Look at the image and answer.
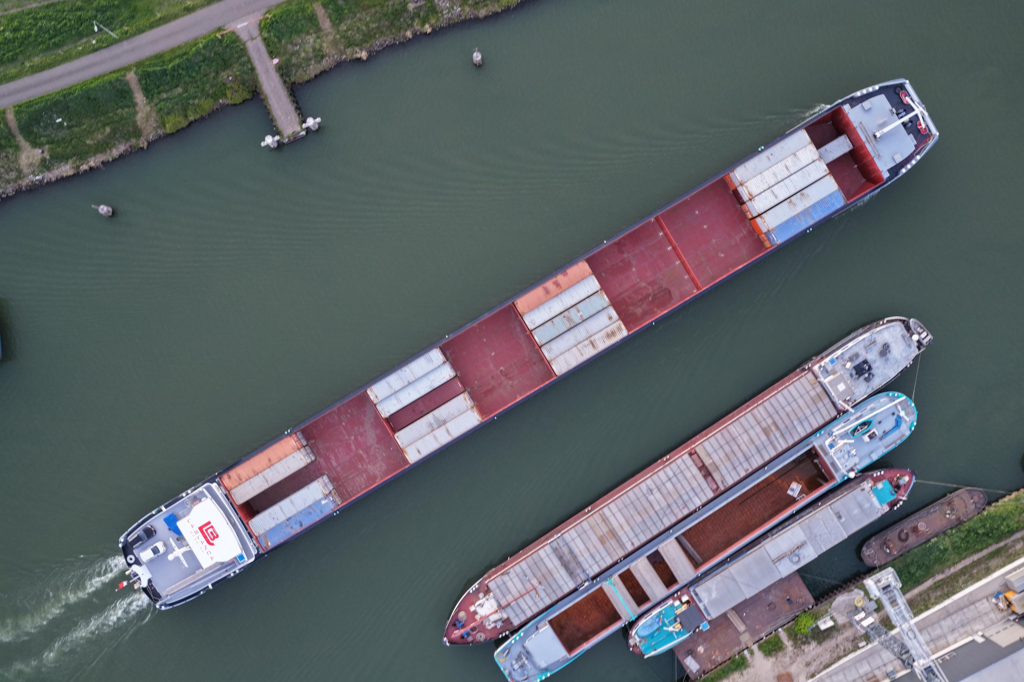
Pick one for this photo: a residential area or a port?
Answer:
port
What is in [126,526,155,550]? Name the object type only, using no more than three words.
boat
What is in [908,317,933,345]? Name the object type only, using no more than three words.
boat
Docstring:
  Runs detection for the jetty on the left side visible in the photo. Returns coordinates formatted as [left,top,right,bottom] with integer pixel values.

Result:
[259,74,310,146]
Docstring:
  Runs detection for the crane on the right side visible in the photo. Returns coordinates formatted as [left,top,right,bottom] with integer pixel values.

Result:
[851,568,962,682]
